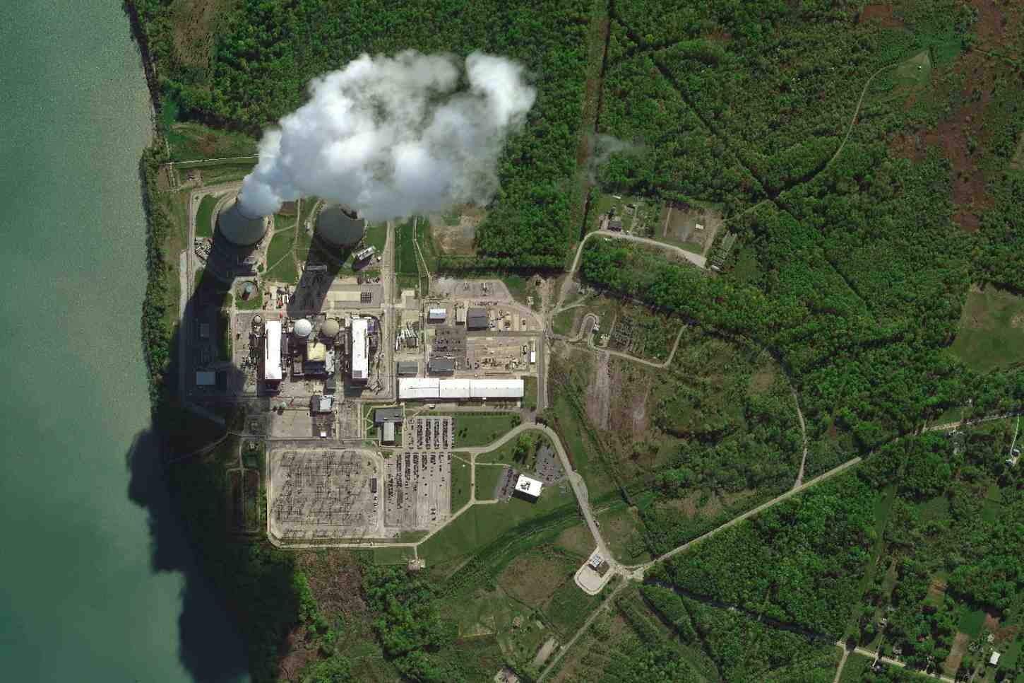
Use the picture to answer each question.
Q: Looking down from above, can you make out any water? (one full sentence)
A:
Yes, water shows up in the scene.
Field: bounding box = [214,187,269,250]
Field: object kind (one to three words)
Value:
cooling tower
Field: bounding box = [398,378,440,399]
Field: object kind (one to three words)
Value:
building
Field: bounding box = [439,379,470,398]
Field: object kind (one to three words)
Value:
building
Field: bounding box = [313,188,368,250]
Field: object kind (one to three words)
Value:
cooling tower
